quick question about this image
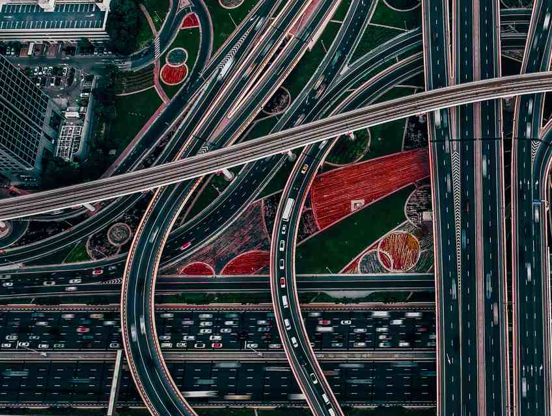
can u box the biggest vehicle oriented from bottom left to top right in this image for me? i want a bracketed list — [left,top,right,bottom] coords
[217,56,234,78]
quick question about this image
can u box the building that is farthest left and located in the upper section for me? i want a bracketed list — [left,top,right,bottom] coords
[0,58,55,175]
